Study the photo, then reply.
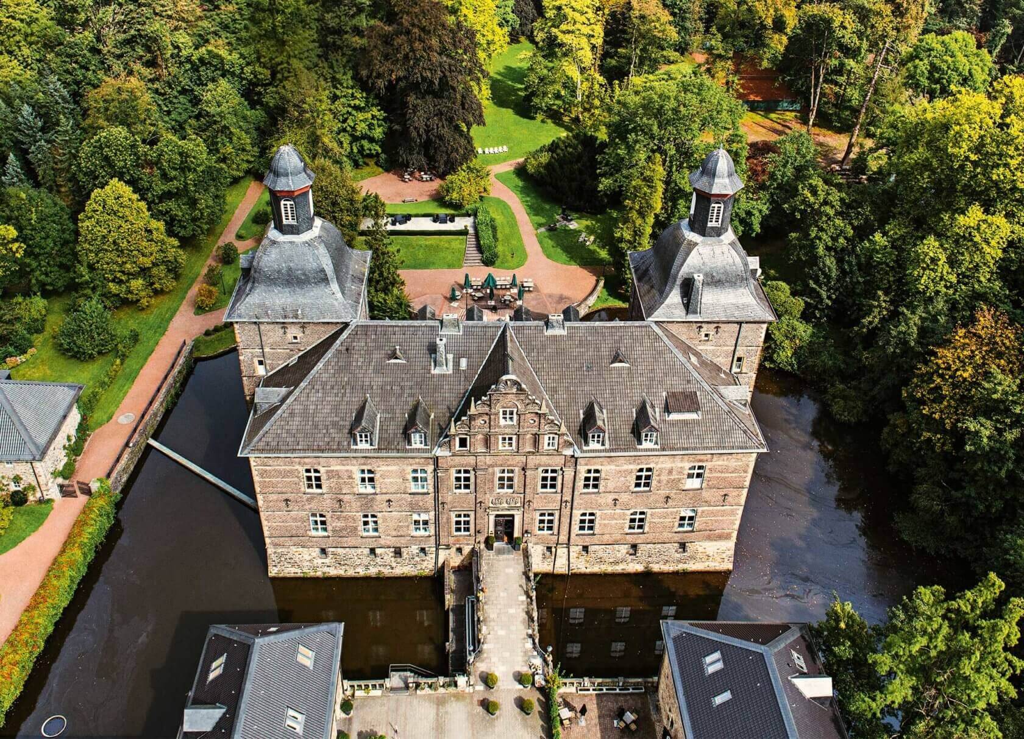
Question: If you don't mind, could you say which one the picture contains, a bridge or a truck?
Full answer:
Visible in the photo is a bridge.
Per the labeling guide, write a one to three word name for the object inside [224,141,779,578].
building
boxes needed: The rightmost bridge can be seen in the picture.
[466,540,555,684]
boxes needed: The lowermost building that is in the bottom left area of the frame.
[174,620,346,739]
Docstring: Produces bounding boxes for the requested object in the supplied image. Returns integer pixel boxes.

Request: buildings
[658,617,849,739]
[224,141,779,578]
[174,620,346,739]
[0,353,87,501]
